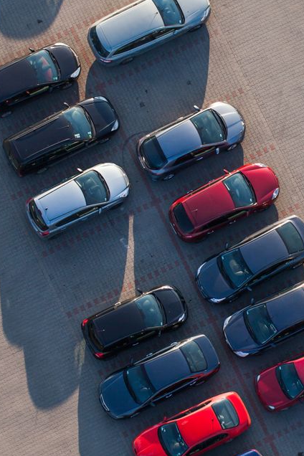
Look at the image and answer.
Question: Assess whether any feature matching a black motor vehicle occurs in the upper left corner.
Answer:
Yes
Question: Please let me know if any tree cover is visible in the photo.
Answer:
No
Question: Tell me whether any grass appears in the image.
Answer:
No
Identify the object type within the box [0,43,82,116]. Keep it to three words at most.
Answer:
car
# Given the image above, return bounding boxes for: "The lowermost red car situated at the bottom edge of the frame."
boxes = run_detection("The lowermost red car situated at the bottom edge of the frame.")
[133,389,251,456]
